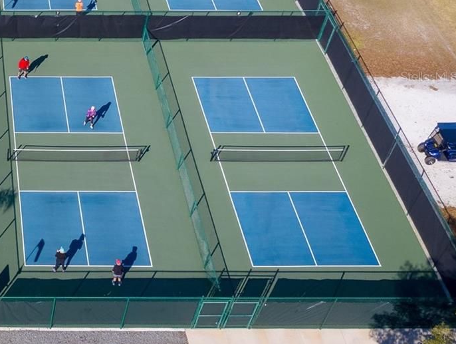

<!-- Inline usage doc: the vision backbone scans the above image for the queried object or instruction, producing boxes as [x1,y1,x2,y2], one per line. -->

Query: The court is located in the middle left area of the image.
[0,38,220,323]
